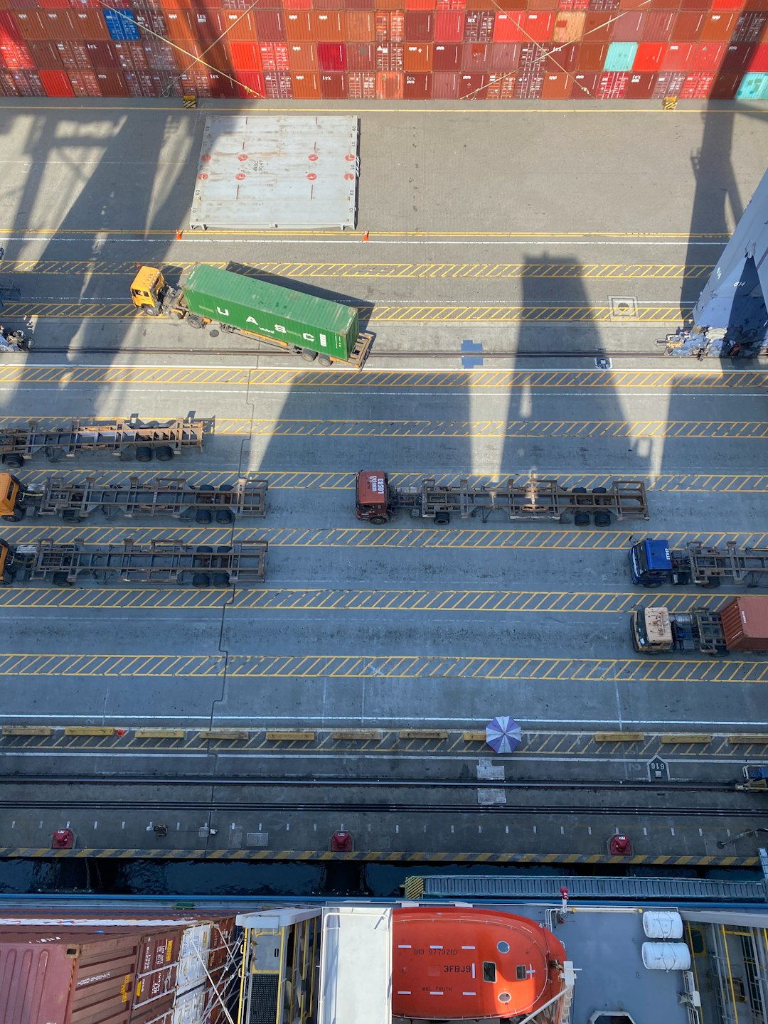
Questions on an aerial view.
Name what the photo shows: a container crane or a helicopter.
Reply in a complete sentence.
Looking from above, you can make out a container crane.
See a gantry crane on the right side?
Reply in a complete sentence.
Yes, you'll find a gantry crane on the right side.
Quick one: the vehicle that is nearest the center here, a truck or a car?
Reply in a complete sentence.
Specifically, the vehicle that is nearest the center is a truck.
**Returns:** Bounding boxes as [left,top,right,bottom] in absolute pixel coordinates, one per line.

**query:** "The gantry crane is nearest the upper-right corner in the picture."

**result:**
[649,140,768,369]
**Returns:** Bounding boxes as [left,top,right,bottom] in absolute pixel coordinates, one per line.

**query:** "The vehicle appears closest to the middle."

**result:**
[351,471,450,526]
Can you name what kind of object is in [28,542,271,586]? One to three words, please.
trailer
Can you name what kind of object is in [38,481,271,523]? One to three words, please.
trailer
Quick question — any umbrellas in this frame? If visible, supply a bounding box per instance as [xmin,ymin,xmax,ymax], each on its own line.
[484,718,520,754]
